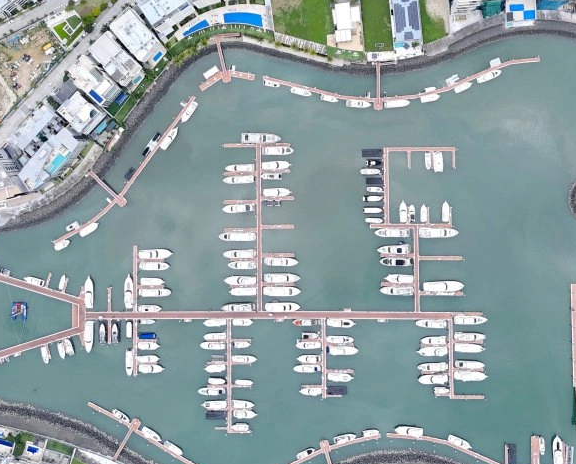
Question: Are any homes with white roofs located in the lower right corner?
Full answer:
No, no home with a white roof appears in the lower right corner.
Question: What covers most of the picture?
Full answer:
The scene is dominated by water.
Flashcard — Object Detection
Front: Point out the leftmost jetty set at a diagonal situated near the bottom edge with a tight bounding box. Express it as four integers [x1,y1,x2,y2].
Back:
[87,401,196,464]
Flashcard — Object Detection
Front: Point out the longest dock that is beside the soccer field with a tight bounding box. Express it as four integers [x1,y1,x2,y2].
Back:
[263,57,540,109]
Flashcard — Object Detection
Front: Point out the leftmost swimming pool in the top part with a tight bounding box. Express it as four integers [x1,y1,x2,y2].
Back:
[51,154,68,173]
